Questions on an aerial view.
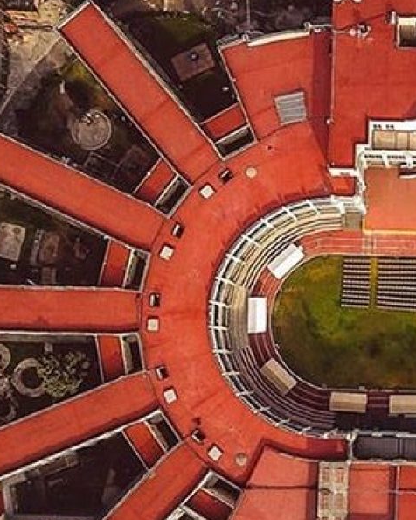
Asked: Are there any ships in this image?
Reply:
No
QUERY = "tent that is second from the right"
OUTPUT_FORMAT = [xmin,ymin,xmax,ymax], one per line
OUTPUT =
[331,391,368,412]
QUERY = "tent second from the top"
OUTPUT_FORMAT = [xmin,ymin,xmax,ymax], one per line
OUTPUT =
[247,297,267,332]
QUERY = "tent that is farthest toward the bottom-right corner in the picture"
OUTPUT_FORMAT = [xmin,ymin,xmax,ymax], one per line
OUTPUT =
[390,393,416,414]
